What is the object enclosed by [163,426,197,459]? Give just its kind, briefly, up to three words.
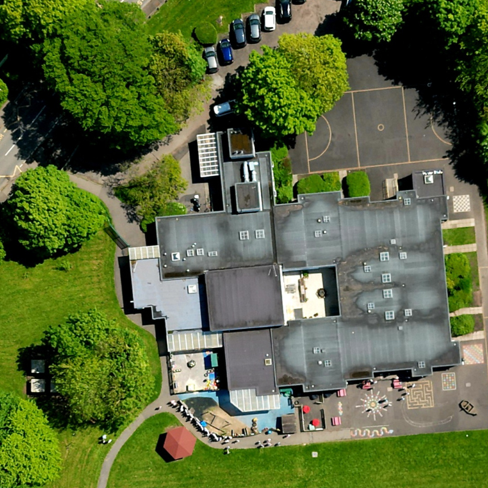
gazebo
